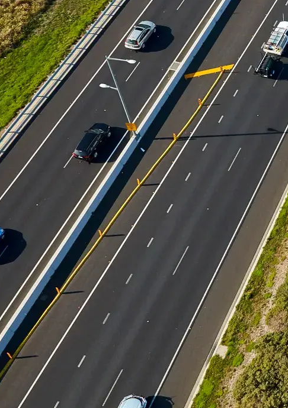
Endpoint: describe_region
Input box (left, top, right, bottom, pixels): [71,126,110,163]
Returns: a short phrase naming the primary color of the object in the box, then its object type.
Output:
black car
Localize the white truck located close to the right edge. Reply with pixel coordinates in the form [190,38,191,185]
[263,22,288,59]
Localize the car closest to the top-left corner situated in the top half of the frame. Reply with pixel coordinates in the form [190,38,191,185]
[123,21,156,52]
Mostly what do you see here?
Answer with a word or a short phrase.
paved ground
